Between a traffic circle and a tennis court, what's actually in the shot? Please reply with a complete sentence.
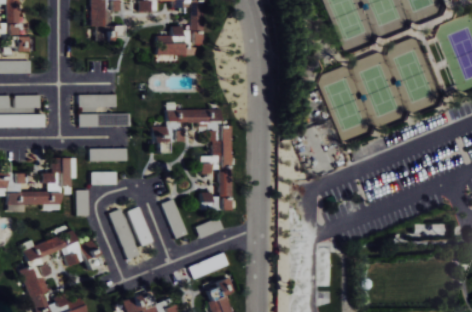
Looking from above, you can make out a tennis court.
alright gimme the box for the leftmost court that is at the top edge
[322,0,374,52]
